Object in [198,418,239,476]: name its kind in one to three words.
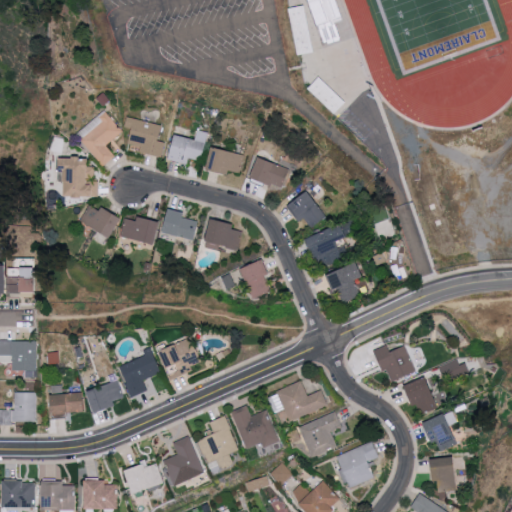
house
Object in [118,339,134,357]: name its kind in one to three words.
swimming pool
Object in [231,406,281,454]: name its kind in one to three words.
house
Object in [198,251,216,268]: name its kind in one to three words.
swimming pool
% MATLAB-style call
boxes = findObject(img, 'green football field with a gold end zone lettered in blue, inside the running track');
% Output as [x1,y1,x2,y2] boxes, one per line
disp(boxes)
[370,0,506,78]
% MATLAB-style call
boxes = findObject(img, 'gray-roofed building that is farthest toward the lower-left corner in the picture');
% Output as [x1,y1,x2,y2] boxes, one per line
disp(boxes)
[1,480,34,508]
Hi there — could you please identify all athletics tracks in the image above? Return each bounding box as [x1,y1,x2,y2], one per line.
[342,0,512,130]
